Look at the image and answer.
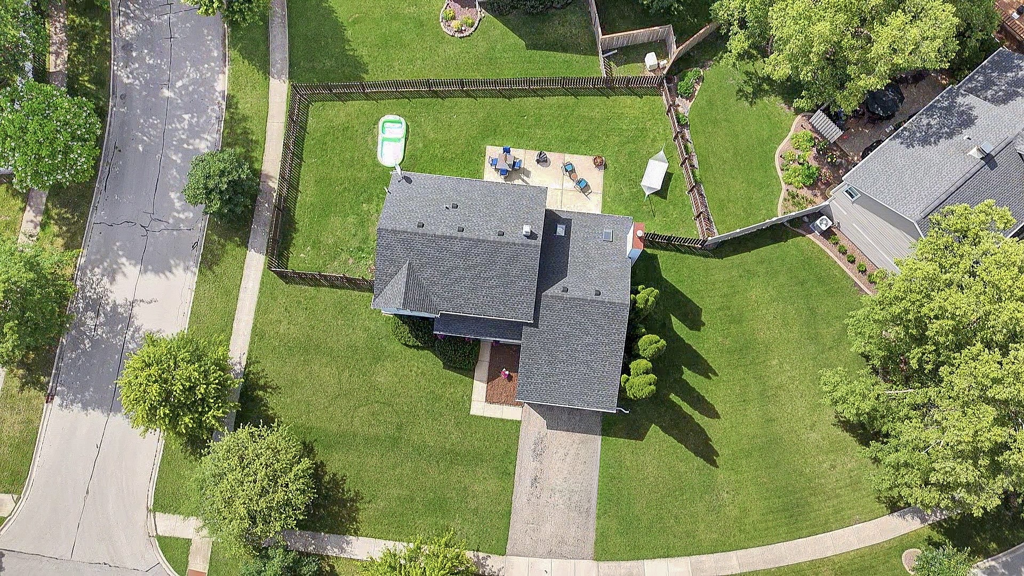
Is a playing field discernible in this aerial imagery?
No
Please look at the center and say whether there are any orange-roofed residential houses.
No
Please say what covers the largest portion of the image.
grass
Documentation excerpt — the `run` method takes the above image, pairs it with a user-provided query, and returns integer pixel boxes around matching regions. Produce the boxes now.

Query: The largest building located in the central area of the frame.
[372,169,647,417]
